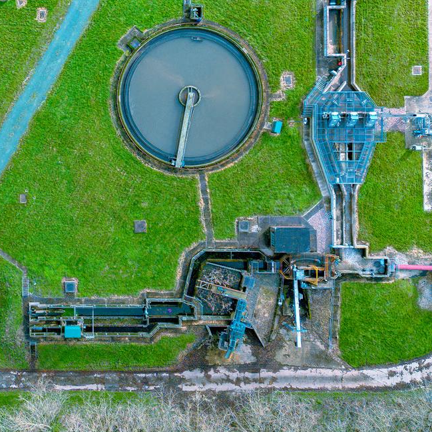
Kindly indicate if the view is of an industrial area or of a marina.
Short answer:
industrial area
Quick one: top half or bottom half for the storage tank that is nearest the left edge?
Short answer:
top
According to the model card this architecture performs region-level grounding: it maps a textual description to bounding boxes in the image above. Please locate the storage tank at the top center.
[116,20,261,171]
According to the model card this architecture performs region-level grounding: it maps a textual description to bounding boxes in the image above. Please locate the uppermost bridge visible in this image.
[173,92,198,171]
